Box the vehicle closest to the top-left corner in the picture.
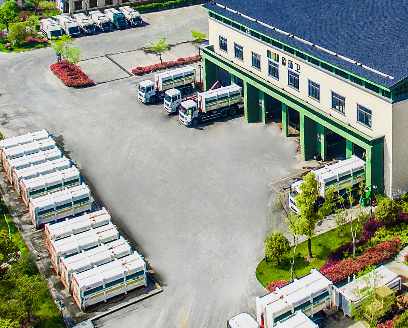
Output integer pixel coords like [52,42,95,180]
[34,16,57,37]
